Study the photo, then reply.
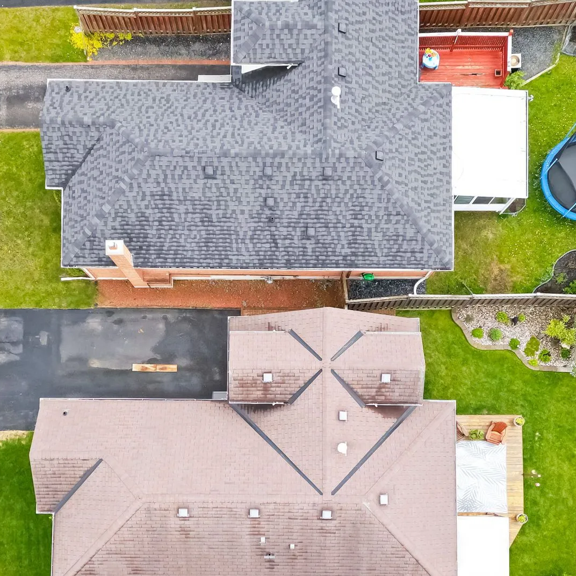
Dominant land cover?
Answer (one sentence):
What you mostly see from above here is buildings.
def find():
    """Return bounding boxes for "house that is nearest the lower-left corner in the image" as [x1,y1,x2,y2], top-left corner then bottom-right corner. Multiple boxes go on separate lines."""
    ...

[29,307,461,576]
